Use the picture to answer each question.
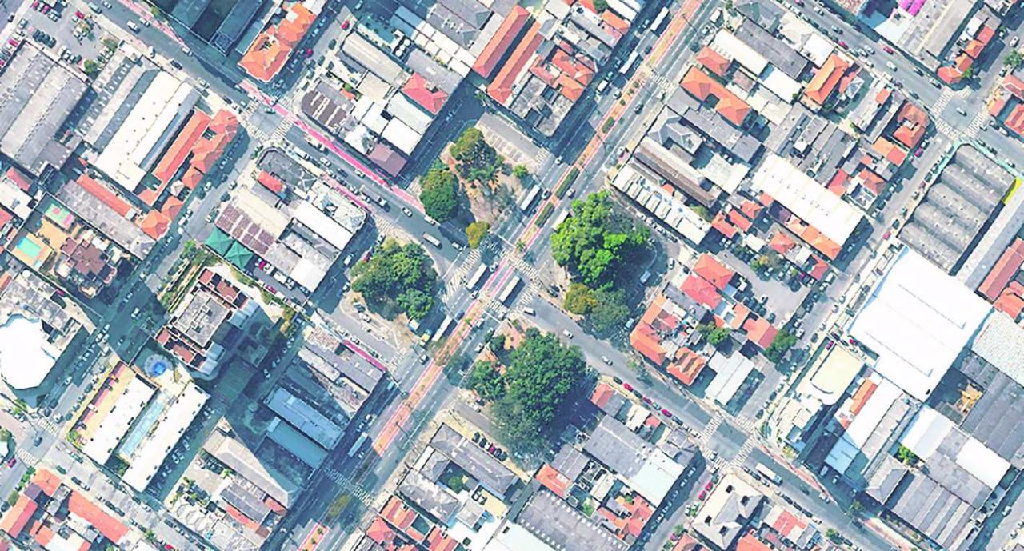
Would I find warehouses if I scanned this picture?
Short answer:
Yes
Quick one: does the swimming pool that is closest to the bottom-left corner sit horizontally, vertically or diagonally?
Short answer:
diagonally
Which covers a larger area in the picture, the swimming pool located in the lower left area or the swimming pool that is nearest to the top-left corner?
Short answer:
the swimming pool located in the lower left area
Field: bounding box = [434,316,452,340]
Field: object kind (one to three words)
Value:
vehicle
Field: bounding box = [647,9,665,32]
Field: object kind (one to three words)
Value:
vehicle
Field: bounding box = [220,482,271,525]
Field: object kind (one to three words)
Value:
building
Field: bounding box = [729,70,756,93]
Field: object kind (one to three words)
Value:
shed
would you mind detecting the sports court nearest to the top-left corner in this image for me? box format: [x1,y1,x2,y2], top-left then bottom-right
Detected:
[47,201,76,232]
